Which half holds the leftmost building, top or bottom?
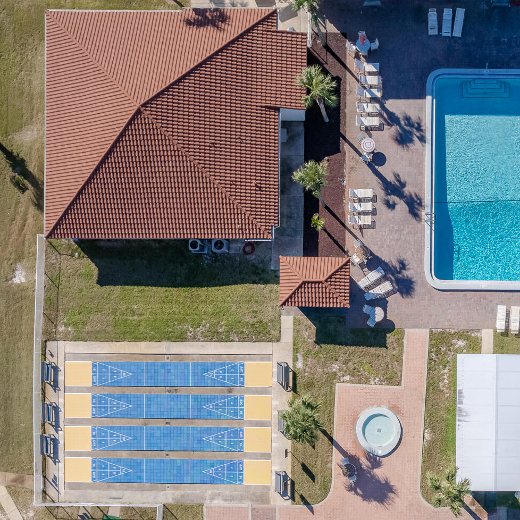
top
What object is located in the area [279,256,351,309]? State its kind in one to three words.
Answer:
building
